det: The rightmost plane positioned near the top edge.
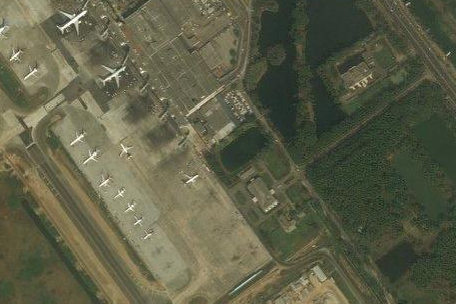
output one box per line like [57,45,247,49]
[57,11,87,36]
